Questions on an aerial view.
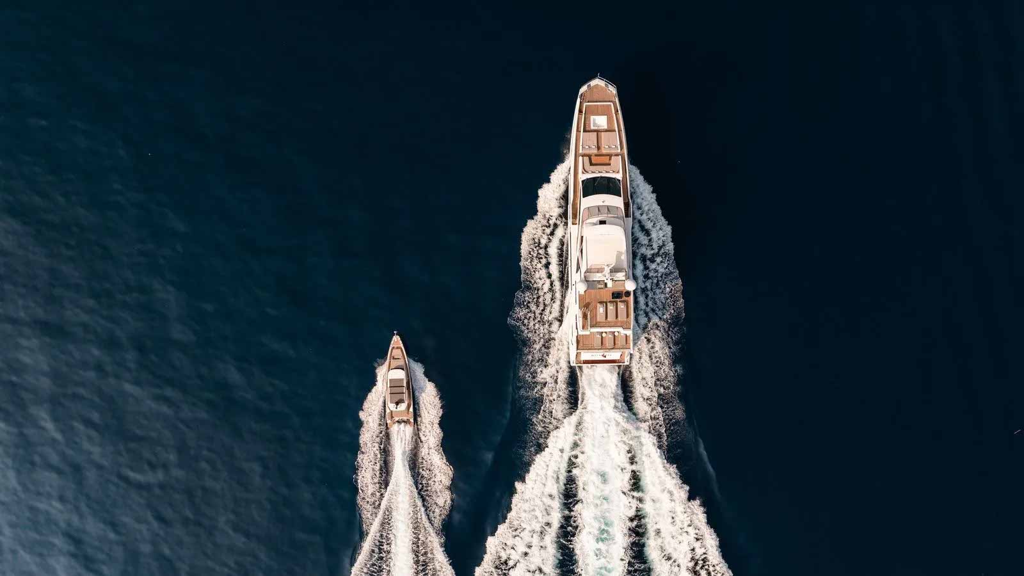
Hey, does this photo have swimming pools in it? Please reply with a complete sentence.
No, I find no swimming pool anywhere in the image.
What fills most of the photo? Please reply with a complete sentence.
The bulk of the photo consists of water.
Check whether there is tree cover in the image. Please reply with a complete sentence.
No, the scene doesn't show any tree cover.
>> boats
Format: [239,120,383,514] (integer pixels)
[385,332,414,428]
[569,68,636,366]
